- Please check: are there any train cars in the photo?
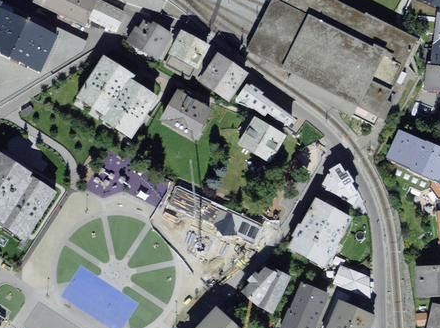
No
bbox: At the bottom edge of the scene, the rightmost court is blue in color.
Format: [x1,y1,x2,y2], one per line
[62,266,138,328]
